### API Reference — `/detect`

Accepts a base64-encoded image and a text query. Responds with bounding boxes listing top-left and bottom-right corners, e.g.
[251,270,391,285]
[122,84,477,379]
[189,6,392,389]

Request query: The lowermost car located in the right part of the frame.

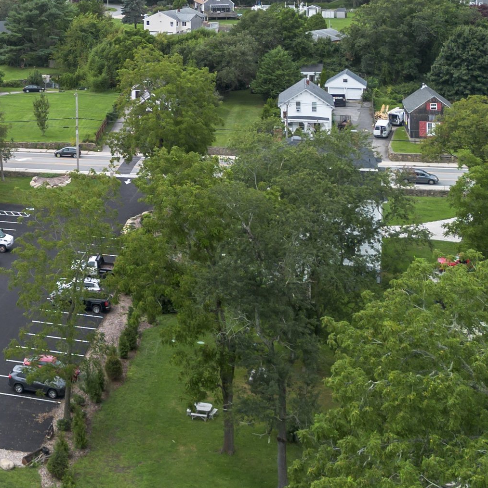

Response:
[396,166,441,185]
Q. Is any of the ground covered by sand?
No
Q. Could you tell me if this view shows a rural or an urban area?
rural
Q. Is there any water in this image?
No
